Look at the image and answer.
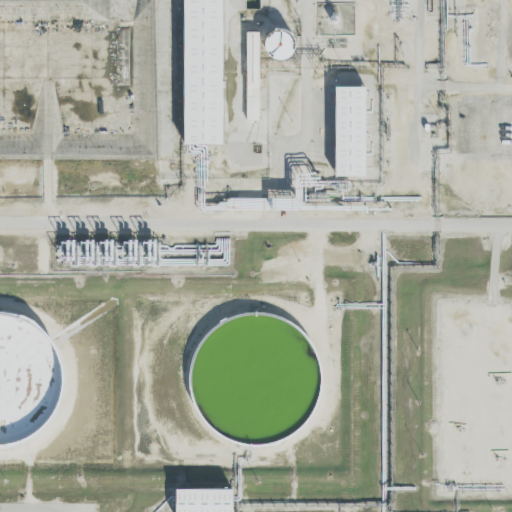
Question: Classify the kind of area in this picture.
industrial area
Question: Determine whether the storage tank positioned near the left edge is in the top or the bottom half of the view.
bottom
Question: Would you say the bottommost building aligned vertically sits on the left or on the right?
right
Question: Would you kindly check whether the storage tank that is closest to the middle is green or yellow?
green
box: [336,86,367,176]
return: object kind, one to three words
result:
building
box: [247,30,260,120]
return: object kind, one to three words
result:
building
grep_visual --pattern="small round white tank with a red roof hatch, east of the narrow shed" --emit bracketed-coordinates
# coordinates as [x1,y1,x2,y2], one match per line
[265,28,297,60]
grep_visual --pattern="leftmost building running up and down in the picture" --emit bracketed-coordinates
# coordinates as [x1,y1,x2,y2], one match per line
[184,0,222,144]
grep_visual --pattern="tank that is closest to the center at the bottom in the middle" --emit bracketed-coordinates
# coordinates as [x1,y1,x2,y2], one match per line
[189,312,322,445]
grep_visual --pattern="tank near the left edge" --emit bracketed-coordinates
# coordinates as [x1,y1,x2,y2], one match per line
[0,312,62,446]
